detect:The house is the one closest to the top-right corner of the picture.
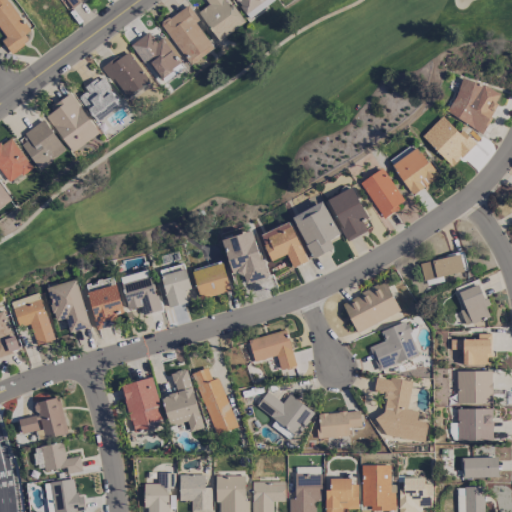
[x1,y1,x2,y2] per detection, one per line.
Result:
[450,77,504,133]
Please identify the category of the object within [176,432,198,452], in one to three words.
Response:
swimming pool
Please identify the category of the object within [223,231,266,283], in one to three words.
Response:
house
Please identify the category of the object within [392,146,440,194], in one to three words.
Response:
house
